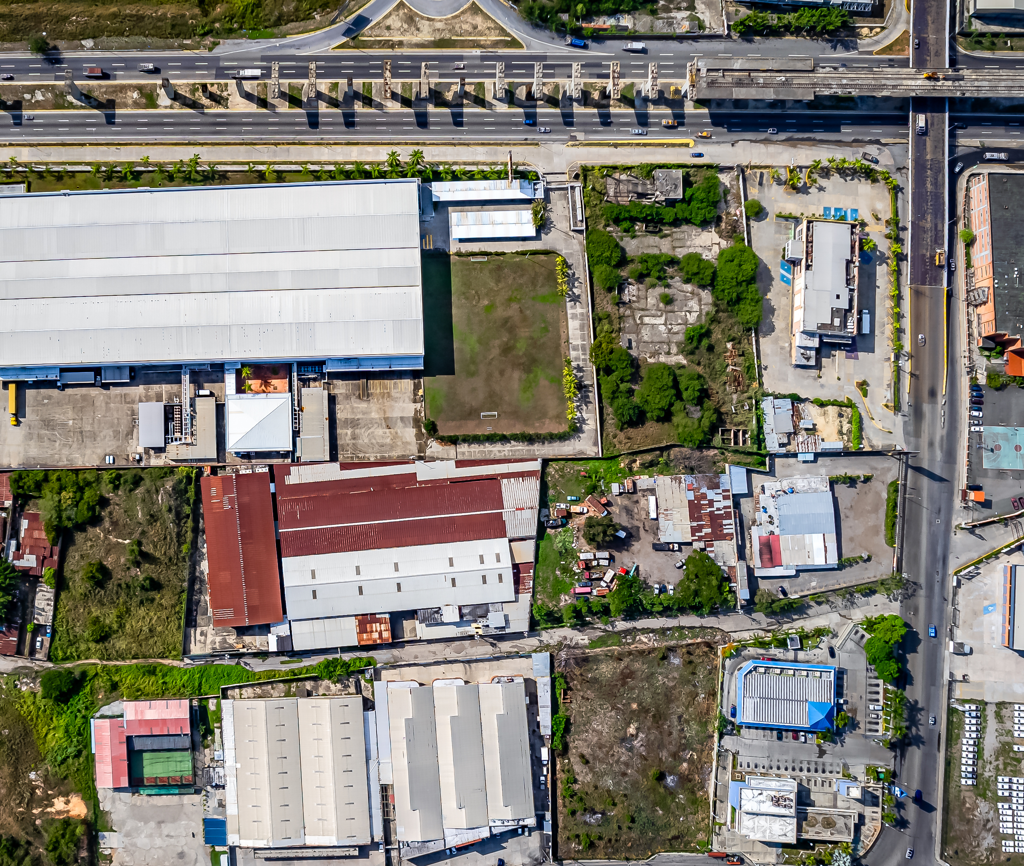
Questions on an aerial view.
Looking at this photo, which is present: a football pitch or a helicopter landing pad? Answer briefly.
football pitch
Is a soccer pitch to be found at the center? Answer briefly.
Yes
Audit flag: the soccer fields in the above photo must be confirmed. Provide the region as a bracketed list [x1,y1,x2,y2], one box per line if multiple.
[424,251,574,433]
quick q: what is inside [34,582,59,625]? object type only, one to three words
house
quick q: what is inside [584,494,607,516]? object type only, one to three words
truck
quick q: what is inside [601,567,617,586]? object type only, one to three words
vehicle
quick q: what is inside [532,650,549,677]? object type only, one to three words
shed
